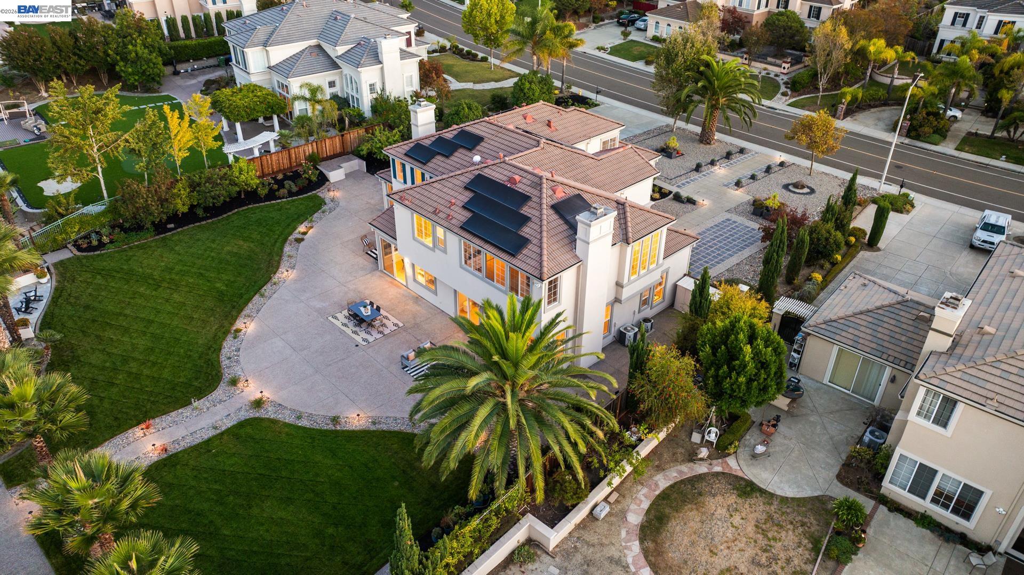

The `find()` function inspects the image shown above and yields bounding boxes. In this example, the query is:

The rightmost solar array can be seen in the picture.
[552,193,592,225]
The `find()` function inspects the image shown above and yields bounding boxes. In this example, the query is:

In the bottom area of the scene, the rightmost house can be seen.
[800,236,1024,567]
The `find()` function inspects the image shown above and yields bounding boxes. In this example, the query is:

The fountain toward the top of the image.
[780,179,818,195]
